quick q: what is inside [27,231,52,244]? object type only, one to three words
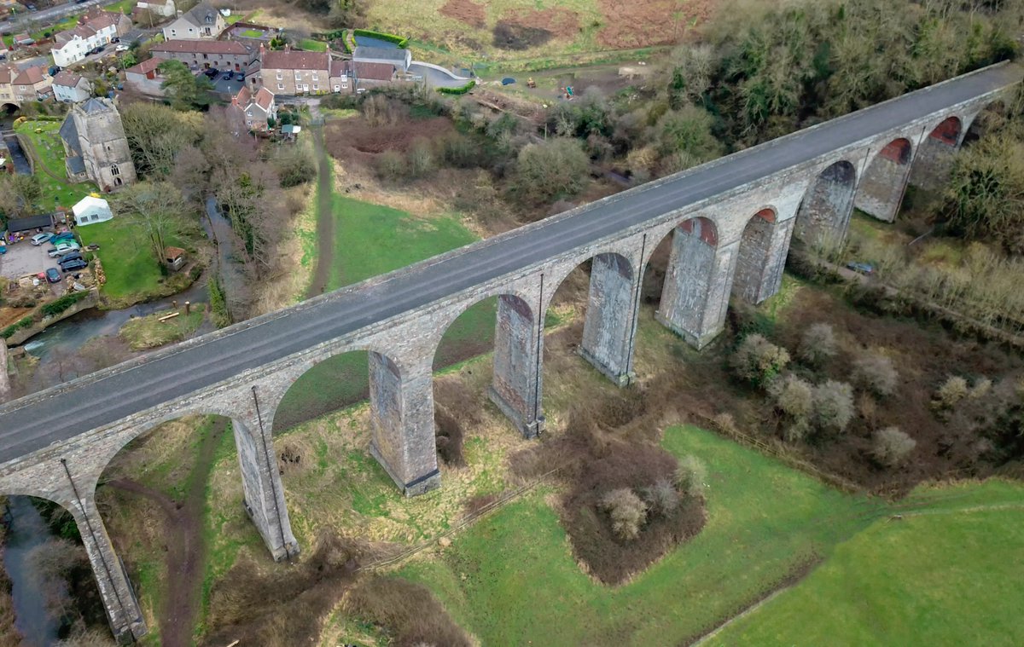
vehicle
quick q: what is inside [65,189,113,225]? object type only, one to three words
tent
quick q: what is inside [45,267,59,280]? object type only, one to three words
vehicle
